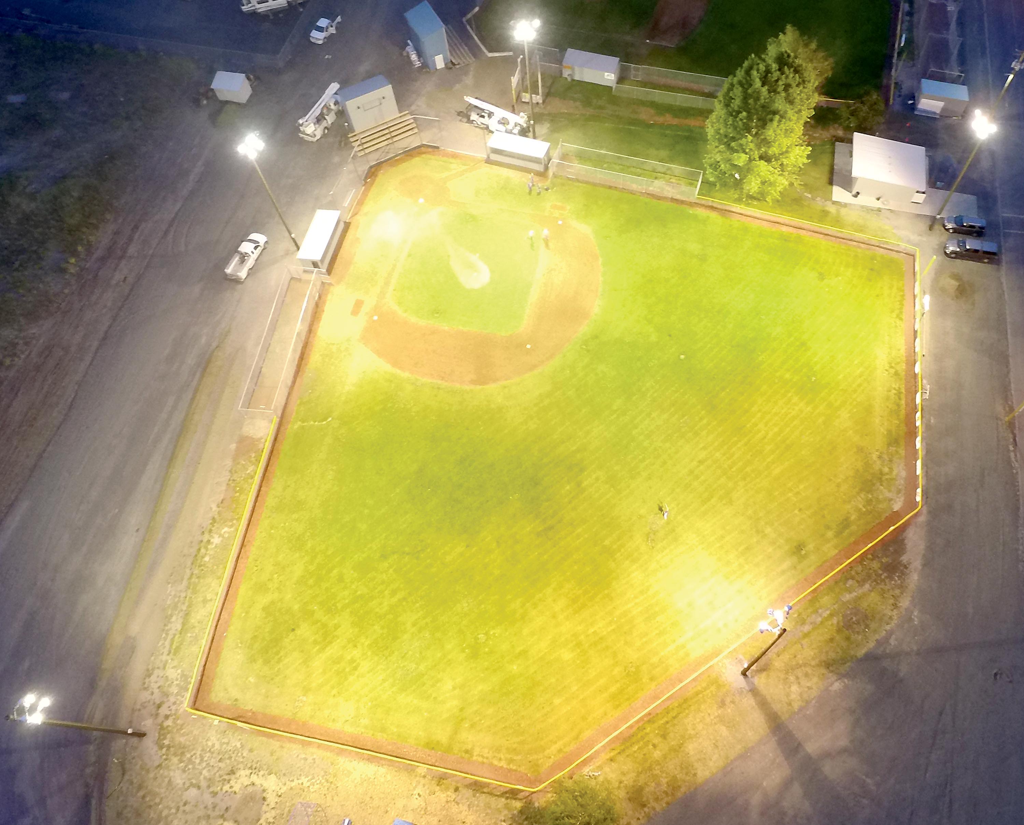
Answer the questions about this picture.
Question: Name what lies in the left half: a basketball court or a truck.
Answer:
truck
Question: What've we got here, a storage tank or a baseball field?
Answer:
baseball field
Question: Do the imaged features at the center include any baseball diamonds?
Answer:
Yes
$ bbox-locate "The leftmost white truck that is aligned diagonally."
[221,230,271,279]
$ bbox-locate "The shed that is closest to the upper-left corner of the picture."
[212,69,253,102]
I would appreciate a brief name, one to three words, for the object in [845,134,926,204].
building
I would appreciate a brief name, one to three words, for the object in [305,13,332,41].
car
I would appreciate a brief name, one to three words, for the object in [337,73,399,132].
building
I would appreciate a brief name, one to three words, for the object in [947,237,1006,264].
truck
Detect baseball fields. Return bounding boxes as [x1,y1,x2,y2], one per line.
[195,145,916,788]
